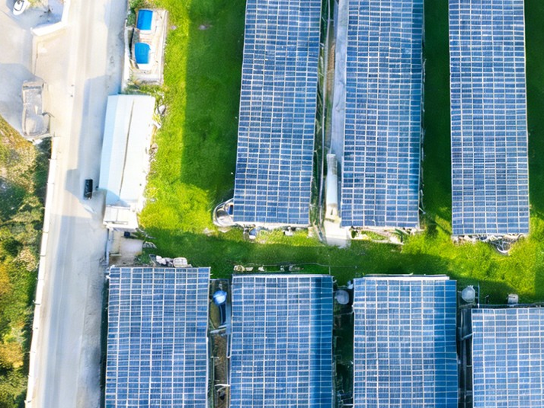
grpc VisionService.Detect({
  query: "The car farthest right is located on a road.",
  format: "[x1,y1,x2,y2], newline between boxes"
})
[81,178,94,198]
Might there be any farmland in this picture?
No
